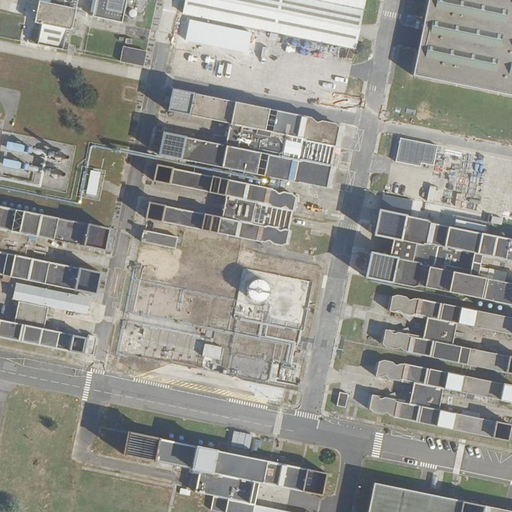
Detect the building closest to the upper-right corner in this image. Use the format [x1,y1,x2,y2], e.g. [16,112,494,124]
[412,0,512,98]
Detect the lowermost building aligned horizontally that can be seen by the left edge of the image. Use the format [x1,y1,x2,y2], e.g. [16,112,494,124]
[0,321,96,354]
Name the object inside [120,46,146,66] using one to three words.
shed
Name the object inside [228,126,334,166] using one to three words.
building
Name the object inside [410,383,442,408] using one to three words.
building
